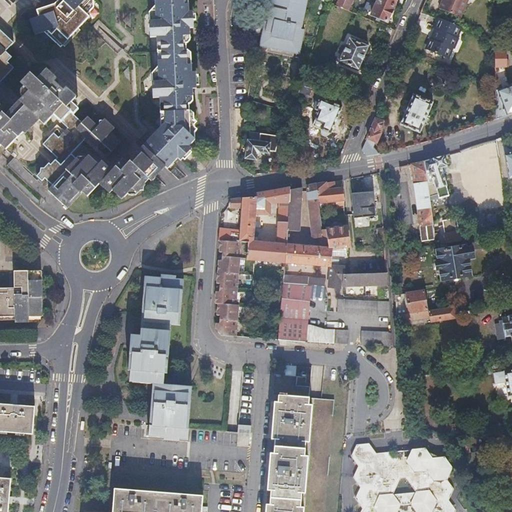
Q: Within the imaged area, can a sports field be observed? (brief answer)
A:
Yes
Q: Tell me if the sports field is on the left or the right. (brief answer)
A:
right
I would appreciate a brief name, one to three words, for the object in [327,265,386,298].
house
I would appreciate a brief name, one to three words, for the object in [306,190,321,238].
barn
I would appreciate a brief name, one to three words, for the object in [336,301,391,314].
building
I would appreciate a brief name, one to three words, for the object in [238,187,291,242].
house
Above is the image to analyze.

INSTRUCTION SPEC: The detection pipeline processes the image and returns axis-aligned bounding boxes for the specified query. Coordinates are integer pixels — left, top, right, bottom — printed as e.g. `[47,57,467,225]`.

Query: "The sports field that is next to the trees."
[449,140,508,212]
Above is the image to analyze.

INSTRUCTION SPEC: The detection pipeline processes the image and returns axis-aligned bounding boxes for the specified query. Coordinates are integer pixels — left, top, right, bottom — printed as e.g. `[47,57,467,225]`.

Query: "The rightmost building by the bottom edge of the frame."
[350,443,456,512]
